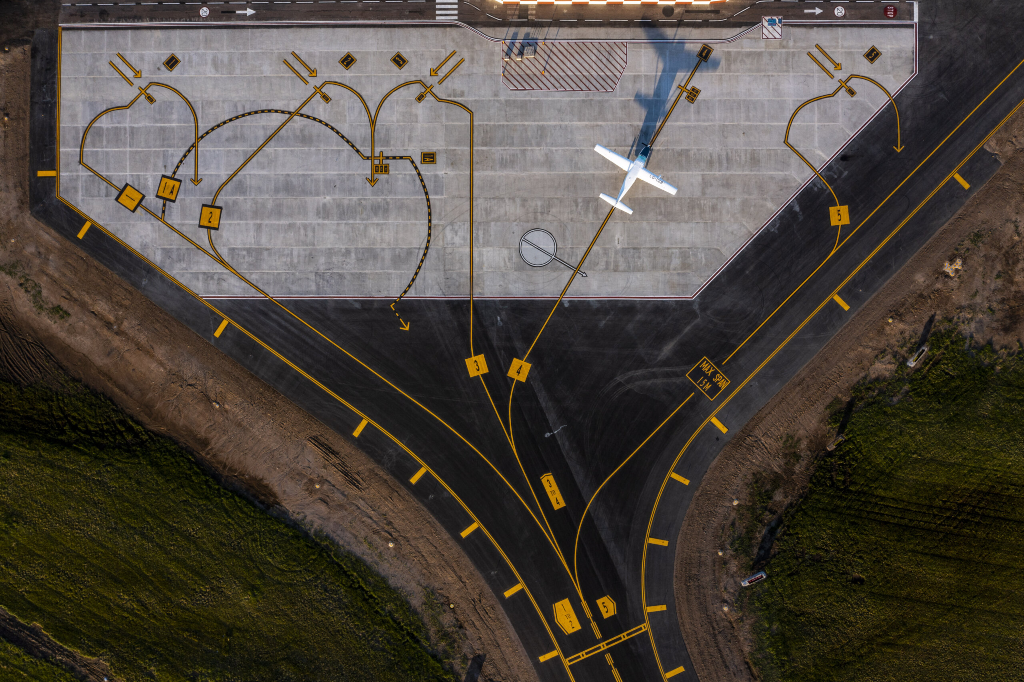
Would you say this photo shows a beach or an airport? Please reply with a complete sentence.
The area seen from above is an airport.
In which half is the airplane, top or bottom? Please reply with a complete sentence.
The airplane sits in the top half of the picture.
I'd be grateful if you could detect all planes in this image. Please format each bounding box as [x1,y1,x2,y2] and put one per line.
[594,143,678,214]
